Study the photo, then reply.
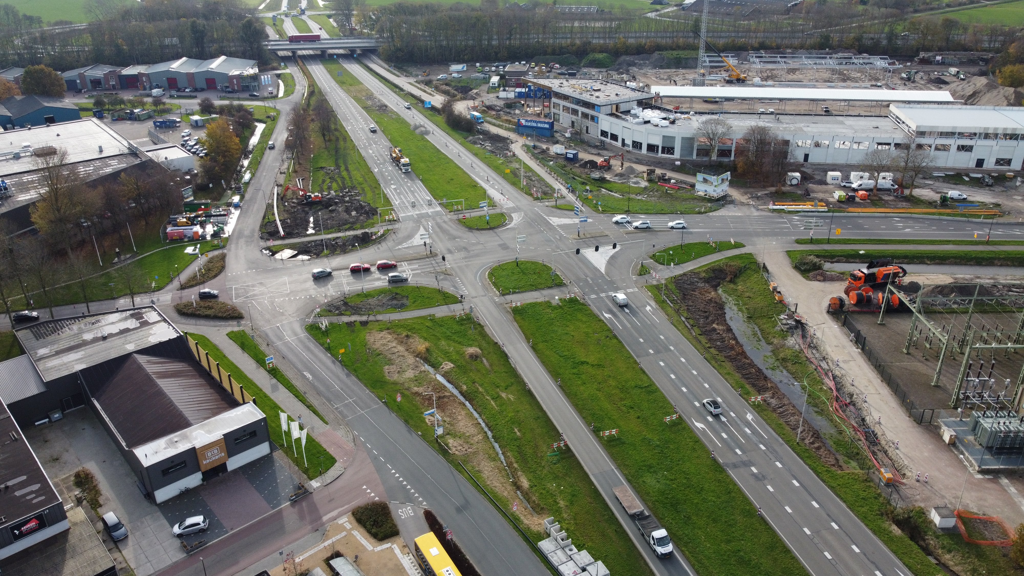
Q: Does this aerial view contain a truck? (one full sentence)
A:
Yes, there's a truck here.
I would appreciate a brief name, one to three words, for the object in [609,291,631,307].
vehicle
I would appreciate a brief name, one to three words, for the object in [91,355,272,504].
building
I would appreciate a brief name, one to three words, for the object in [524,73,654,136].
building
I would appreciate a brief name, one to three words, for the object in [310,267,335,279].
vehicle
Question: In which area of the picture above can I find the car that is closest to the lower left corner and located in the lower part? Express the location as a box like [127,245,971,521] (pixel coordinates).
[96,508,130,540]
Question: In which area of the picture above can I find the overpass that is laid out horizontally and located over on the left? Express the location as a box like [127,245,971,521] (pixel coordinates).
[247,37,404,63]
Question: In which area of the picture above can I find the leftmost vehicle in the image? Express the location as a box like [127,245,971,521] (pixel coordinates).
[10,310,42,323]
